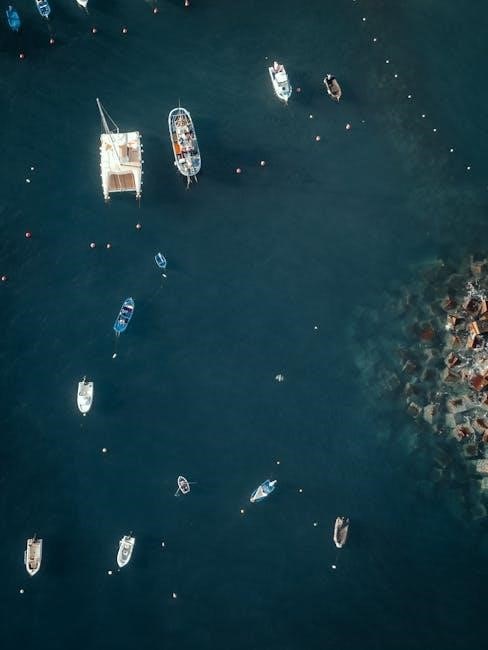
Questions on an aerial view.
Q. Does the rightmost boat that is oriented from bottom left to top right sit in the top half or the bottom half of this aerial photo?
bottom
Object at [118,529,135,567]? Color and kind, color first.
white boat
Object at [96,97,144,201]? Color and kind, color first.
white boat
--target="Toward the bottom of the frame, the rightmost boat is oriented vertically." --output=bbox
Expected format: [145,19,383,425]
[334,512,348,548]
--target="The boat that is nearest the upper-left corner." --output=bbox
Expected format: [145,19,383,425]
[5,4,20,32]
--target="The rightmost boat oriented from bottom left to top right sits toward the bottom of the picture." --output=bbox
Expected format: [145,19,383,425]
[250,479,276,502]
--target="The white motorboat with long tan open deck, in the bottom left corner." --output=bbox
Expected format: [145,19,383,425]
[25,530,43,576]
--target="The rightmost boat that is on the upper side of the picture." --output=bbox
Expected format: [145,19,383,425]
[324,74,341,102]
